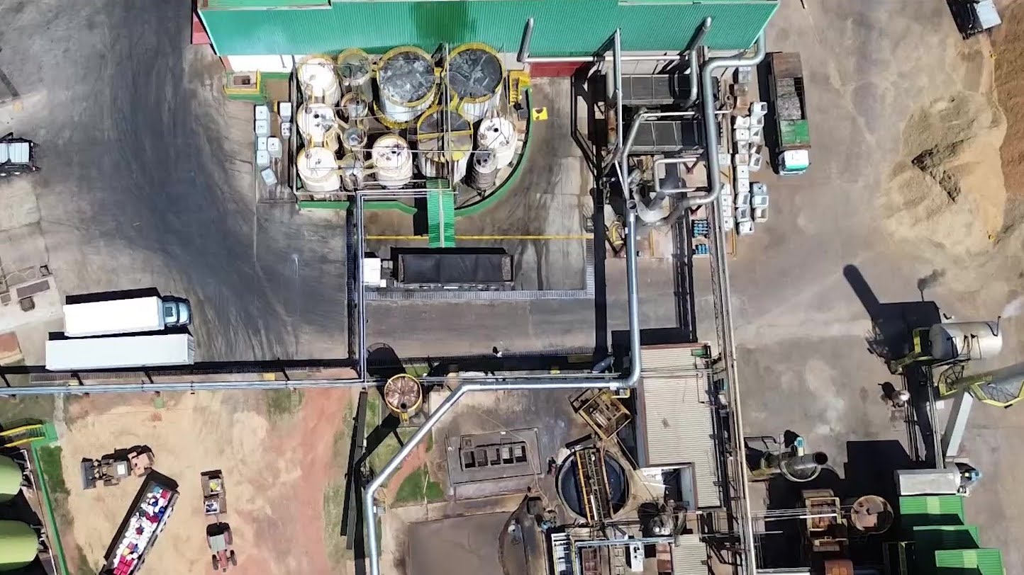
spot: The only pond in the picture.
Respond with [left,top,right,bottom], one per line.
[406,504,522,575]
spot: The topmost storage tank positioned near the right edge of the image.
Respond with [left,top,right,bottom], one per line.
[892,312,1009,381]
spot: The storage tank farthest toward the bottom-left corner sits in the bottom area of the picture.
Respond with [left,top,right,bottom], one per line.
[0,523,54,569]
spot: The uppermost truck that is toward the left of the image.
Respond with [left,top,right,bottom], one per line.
[0,139,52,179]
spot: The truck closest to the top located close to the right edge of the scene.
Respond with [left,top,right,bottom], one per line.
[934,0,998,45]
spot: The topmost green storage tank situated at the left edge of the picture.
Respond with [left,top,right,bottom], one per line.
[0,452,37,495]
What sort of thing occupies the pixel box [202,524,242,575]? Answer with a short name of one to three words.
work vehicle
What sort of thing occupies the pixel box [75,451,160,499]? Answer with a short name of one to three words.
work vehicle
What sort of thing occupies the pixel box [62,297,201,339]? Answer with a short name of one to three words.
truck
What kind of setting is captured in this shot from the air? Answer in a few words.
industrial area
